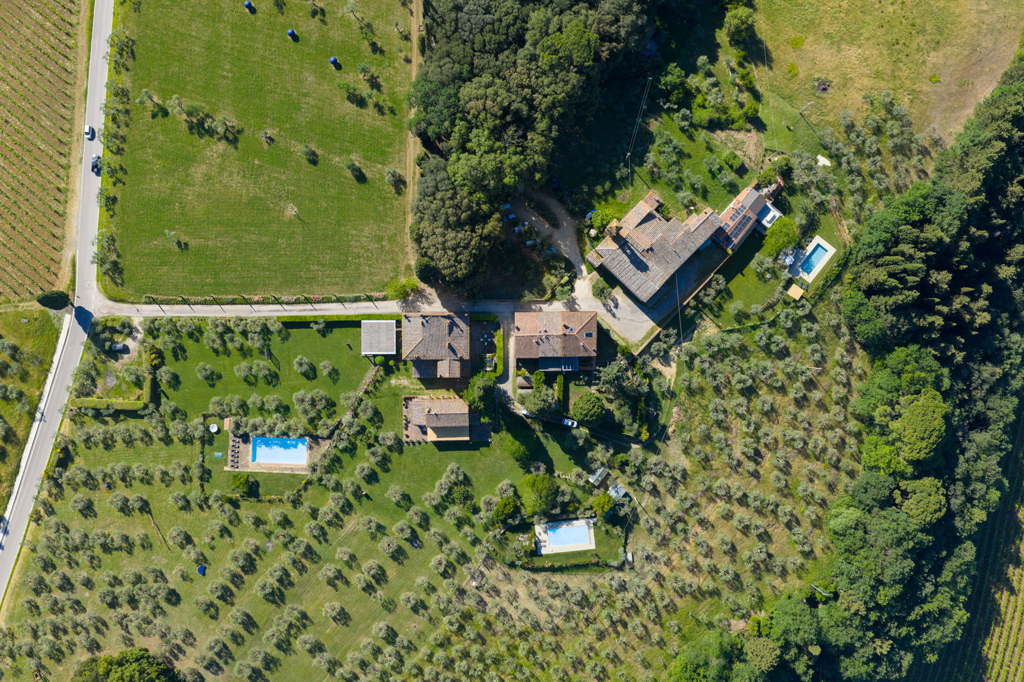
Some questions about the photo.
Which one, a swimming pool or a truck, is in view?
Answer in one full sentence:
I can see a swimming pool in this picture.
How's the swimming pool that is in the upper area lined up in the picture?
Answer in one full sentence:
The swimming pool that is in the upper area is oriented on a diagonal.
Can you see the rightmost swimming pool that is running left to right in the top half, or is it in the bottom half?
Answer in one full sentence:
The rightmost swimming pool that is running left to right sits in the bottom half of the picture.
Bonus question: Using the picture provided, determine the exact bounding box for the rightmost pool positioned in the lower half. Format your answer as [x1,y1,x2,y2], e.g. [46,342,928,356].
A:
[547,524,591,548]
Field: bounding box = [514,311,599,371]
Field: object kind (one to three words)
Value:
house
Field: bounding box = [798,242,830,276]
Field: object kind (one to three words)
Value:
swimming pool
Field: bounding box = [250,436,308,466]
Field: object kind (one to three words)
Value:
swimming pool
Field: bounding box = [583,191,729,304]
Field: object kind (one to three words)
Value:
house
